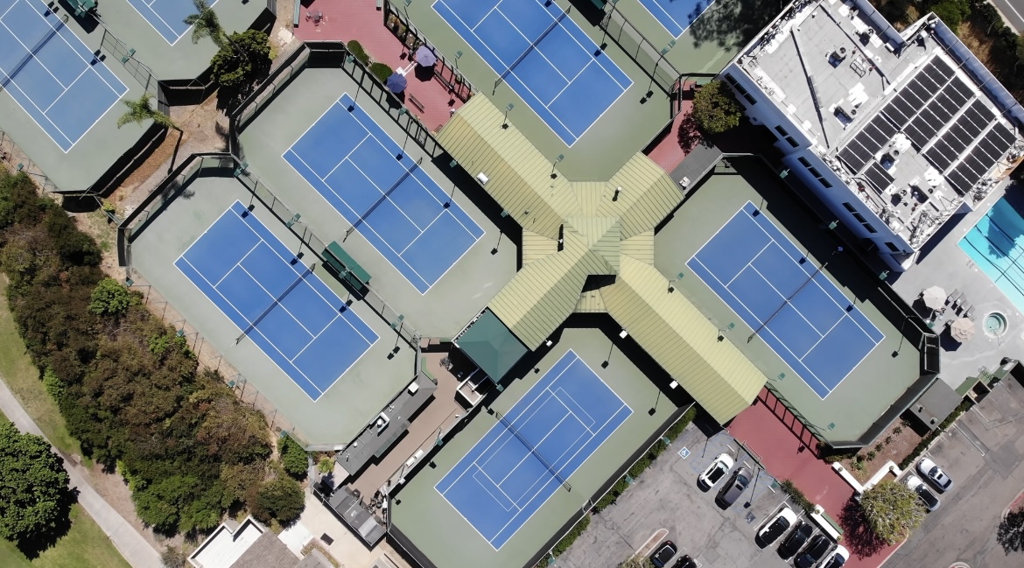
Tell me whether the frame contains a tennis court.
Yes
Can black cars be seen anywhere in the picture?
Yes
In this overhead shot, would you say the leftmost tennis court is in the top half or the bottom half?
top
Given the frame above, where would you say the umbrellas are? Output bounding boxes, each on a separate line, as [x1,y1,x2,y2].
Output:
[387,74,407,94]
[416,47,437,68]
[949,317,972,340]
[921,286,945,309]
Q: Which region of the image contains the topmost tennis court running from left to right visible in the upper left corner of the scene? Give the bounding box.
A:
[85,0,275,87]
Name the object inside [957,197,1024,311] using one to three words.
swimming pool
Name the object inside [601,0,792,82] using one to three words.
tennis court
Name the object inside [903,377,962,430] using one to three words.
building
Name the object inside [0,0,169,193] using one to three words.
tennis court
